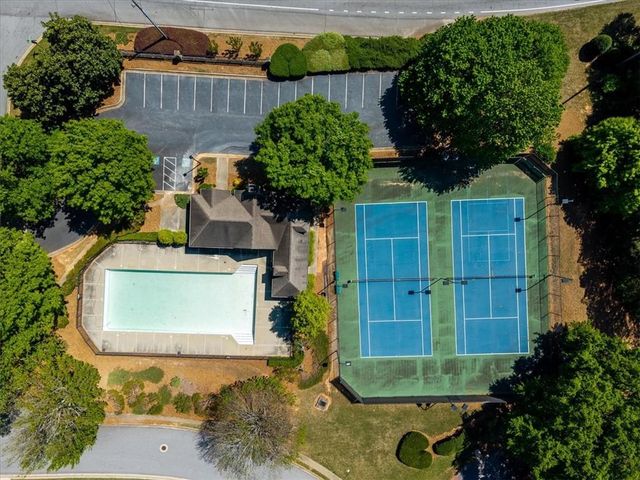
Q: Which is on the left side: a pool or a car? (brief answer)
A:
pool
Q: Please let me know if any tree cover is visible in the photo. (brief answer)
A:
Yes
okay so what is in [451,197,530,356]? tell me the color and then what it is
blue tennis court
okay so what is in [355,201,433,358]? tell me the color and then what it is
blue tennis court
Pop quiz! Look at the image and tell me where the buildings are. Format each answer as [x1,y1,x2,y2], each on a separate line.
[190,189,309,298]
